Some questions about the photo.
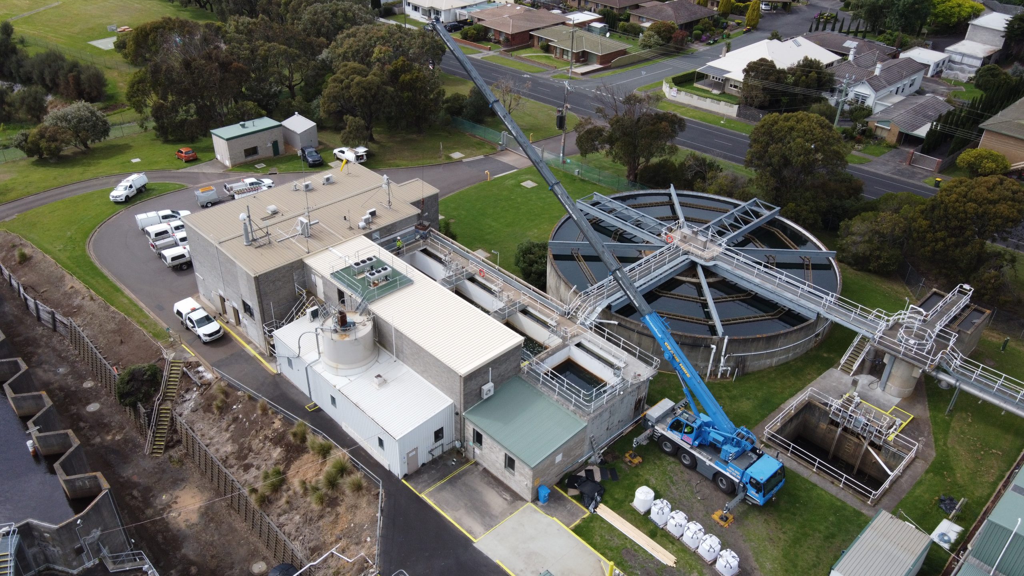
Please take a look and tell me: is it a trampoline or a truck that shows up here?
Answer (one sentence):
This aerial view contains a truck.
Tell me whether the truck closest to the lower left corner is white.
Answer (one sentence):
Yes, the truck closest to the lower left corner is indeed white.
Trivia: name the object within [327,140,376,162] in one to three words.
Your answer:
truck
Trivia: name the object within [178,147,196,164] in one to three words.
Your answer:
car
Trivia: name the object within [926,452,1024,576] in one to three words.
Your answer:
building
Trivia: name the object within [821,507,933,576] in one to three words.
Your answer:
shed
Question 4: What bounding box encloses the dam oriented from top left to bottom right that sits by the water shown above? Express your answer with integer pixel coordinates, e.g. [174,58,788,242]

[0,328,112,495]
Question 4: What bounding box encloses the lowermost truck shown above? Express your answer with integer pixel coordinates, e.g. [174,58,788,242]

[178,297,223,343]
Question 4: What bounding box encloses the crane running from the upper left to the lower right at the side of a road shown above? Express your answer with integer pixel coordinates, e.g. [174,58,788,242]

[413,14,782,519]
